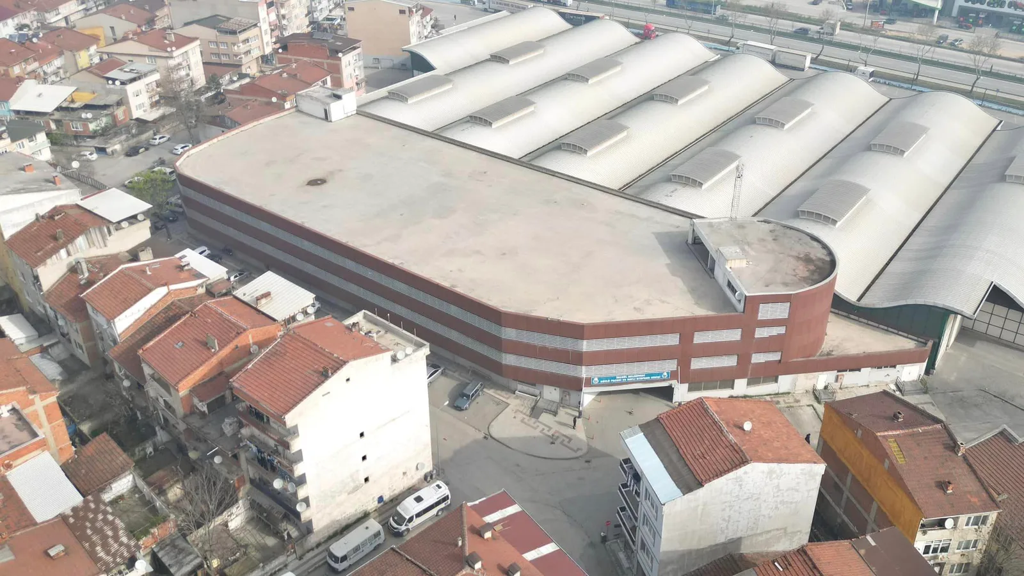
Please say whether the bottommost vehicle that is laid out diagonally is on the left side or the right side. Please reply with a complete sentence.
You can find the bottommost vehicle that is laid out diagonally on the left side of the picture.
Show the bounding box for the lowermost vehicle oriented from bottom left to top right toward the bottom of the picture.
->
[314,517,379,576]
